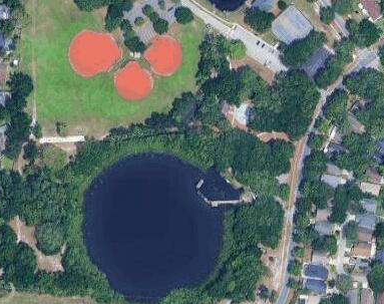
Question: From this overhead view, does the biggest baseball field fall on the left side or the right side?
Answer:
left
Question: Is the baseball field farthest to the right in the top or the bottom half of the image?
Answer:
top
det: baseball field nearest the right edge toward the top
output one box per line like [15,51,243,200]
[142,34,183,76]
